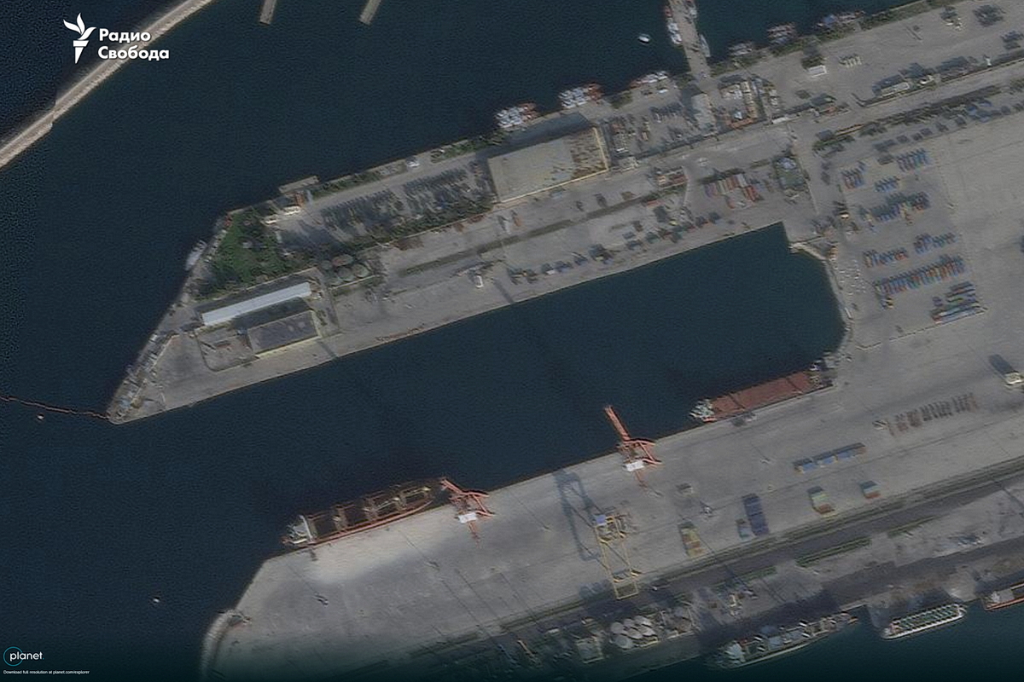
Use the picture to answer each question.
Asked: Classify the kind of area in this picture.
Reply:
port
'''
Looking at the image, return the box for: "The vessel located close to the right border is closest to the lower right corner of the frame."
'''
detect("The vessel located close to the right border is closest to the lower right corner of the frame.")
[981,584,1024,613]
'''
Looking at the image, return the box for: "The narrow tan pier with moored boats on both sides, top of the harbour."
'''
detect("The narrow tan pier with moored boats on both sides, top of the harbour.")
[670,0,710,71]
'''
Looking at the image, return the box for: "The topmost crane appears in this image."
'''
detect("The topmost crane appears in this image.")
[602,405,664,492]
